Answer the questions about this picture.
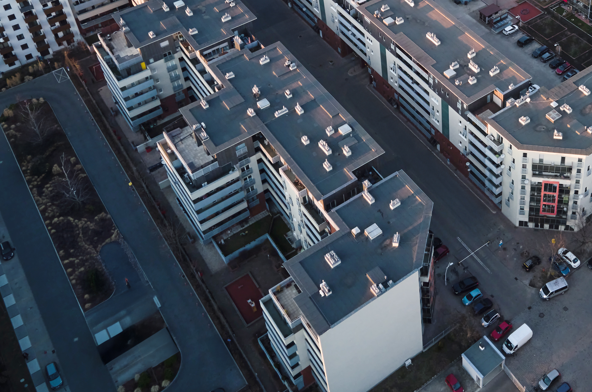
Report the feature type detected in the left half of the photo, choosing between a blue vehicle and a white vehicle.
blue vehicle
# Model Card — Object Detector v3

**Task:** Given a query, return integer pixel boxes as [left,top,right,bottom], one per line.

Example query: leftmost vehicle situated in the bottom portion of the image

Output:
[0,240,15,262]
